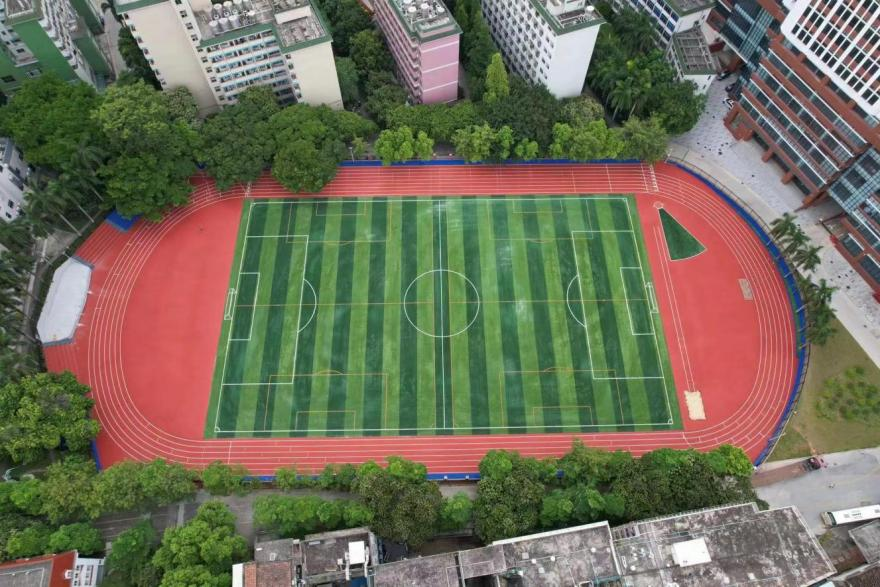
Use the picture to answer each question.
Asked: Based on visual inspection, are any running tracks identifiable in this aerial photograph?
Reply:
Yes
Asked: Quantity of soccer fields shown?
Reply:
1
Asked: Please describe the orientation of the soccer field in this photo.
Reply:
from side to side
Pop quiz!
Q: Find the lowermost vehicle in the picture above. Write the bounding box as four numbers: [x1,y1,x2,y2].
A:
[818,505,880,527]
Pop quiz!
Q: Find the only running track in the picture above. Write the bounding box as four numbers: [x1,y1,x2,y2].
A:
[71,162,797,479]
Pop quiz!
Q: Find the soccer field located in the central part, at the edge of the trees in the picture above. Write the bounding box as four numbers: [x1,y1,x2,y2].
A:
[203,193,684,437]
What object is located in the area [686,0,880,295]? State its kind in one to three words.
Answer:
building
